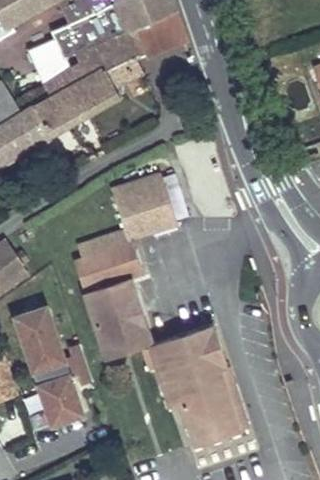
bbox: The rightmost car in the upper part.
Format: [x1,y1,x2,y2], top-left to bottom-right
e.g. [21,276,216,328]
[250,180,266,201]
